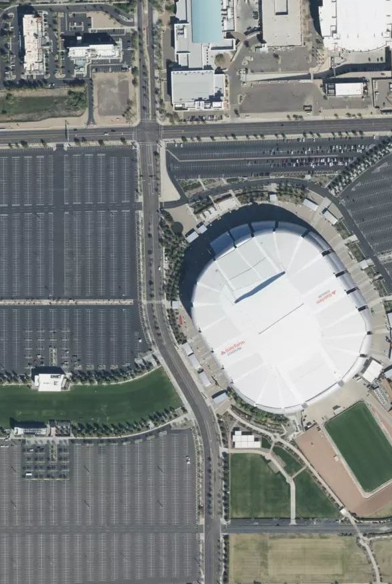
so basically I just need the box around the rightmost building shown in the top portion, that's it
[328,83,364,95]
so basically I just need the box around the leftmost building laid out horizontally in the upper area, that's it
[68,45,125,59]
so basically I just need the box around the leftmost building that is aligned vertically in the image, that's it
[23,13,49,75]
